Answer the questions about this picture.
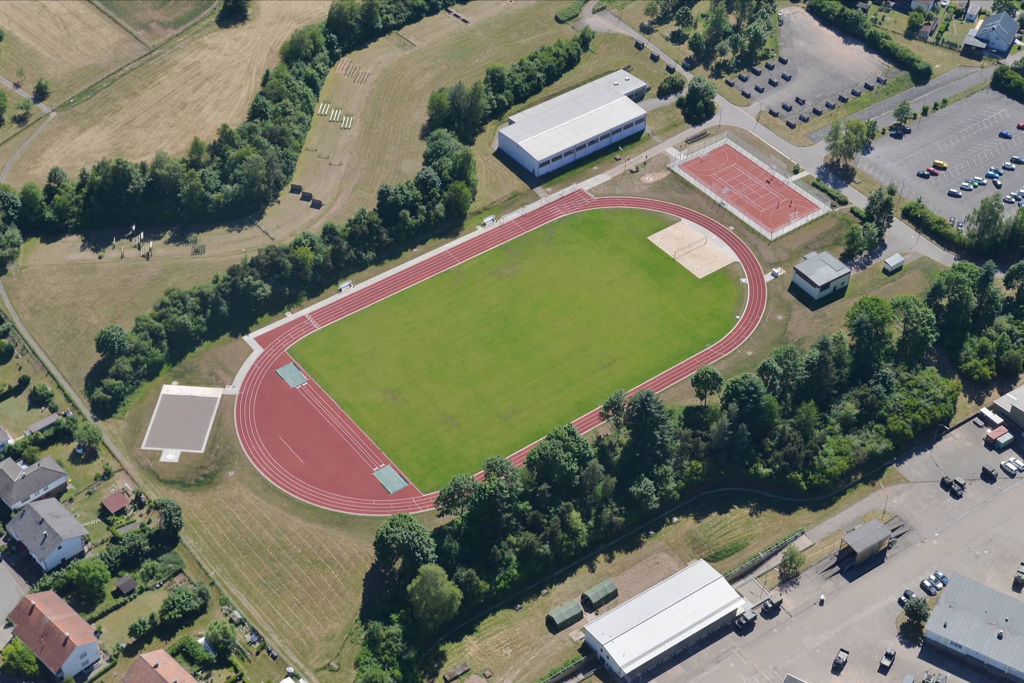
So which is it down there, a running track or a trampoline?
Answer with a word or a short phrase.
running track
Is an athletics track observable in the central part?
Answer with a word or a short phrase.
Yes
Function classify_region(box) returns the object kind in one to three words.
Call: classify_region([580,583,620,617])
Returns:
tent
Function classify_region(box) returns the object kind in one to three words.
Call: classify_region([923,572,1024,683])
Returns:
building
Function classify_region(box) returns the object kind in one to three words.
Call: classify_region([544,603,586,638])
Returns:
tent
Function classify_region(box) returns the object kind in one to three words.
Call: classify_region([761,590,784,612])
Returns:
truck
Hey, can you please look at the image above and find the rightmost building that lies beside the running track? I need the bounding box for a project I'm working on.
[789,251,852,300]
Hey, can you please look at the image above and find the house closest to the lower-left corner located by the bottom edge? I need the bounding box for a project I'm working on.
[8,591,99,678]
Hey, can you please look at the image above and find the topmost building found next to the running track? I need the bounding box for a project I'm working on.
[498,67,647,177]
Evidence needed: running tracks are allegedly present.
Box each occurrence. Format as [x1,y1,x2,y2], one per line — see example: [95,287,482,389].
[234,187,766,515]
